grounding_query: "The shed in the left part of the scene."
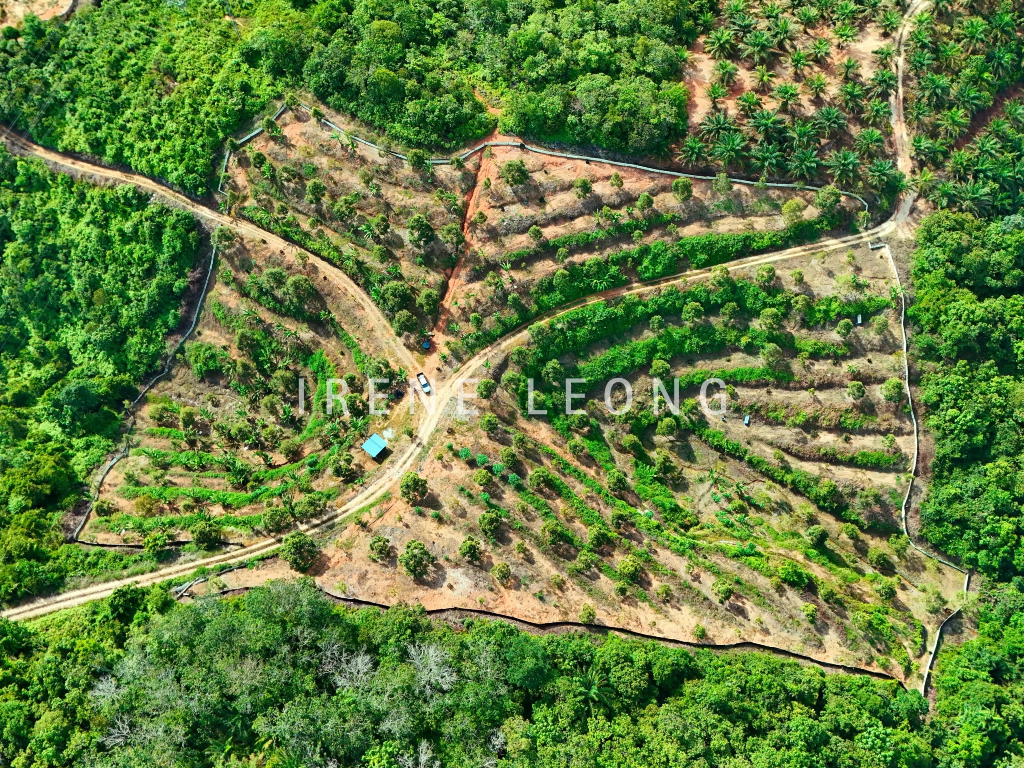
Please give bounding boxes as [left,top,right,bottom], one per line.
[362,434,388,461]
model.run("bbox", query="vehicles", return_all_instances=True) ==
[416,373,431,395]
